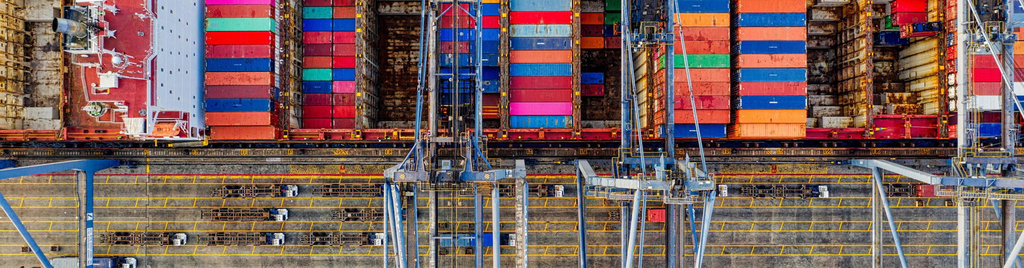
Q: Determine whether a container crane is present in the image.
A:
Yes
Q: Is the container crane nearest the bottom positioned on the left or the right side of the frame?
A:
left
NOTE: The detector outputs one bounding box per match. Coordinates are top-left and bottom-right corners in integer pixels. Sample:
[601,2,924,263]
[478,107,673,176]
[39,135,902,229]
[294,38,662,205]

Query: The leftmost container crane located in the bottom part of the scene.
[0,159,149,268]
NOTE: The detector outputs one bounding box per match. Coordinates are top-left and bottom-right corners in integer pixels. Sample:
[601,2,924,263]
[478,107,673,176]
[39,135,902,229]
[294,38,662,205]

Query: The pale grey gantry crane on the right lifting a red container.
[818,0,1024,268]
